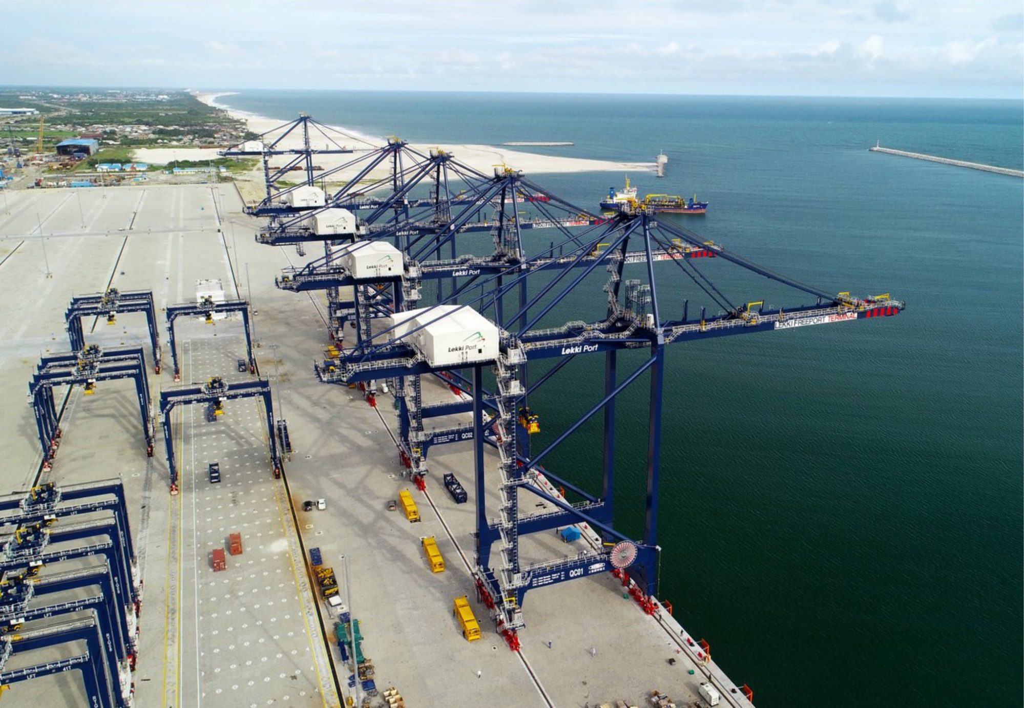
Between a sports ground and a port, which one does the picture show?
port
